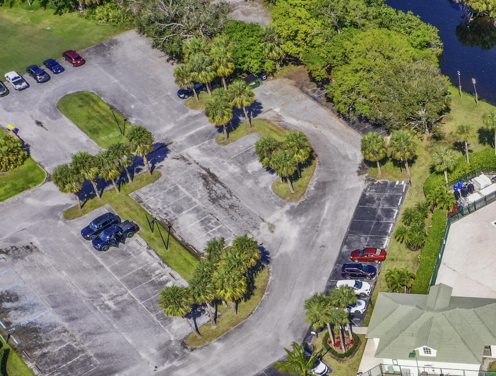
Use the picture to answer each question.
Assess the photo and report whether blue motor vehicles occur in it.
Yes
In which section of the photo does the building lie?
bottom right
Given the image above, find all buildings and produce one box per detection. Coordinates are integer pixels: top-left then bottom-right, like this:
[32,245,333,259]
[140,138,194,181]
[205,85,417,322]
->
[365,281,496,376]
